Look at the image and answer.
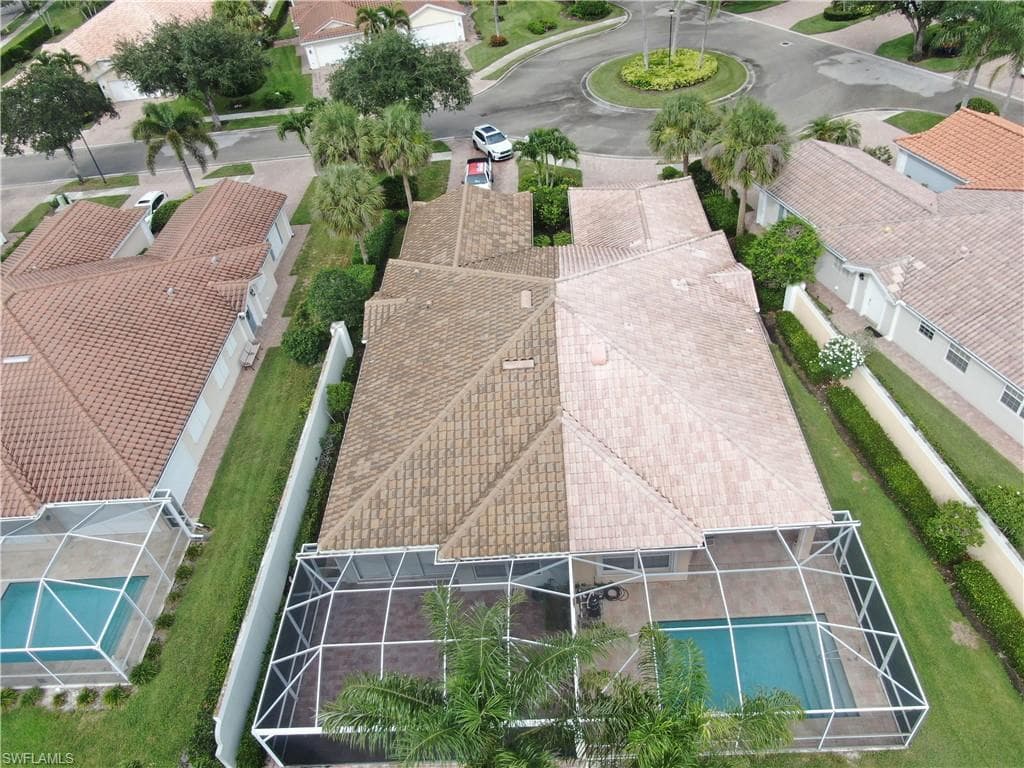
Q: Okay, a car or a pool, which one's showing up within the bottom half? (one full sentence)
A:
Visible within the bottom half is a pool.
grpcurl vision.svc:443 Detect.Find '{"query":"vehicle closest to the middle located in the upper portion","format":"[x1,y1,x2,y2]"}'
[463,161,493,192]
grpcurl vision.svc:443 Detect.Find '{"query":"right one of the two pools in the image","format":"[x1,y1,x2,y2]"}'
[650,604,864,723]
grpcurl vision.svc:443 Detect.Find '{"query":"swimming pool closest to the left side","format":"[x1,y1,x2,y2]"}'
[0,570,157,669]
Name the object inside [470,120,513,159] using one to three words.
car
